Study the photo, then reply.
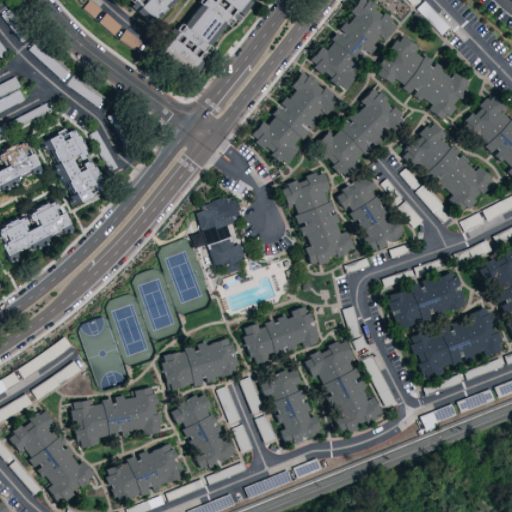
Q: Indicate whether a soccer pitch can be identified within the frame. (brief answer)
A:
No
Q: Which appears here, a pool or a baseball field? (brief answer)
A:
pool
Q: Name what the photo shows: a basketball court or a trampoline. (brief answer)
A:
basketball court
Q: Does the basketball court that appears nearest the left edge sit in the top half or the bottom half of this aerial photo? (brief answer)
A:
bottom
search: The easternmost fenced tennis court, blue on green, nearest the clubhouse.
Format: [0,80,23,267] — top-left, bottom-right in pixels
[158,240,209,314]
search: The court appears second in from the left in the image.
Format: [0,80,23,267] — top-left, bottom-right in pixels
[106,294,153,364]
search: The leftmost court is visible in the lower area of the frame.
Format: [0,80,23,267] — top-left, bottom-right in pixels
[78,316,126,390]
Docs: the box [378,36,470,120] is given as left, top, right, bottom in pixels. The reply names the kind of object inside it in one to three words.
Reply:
building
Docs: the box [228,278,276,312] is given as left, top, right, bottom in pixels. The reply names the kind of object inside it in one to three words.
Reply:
swimming pool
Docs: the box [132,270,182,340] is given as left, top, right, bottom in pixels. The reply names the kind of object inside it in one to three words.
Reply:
tennis court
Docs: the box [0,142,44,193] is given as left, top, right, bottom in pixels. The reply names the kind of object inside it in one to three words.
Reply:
building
